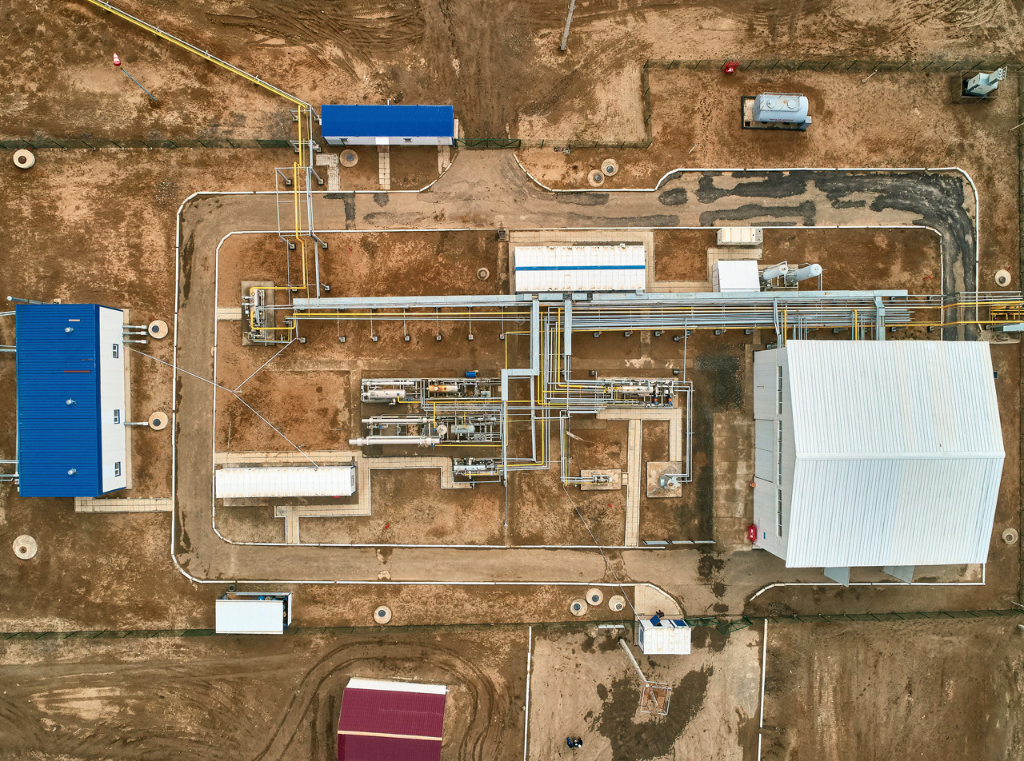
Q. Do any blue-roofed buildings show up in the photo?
Yes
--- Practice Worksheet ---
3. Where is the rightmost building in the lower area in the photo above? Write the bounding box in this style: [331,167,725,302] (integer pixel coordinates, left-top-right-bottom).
[754,339,1008,587]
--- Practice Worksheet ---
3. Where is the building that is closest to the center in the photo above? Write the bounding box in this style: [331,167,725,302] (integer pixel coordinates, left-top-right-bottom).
[514,240,646,295]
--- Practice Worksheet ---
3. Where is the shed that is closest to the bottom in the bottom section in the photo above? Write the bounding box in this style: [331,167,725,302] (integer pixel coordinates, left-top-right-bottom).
[336,679,449,761]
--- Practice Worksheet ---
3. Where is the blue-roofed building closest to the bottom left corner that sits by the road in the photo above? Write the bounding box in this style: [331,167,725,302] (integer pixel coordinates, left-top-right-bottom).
[0,303,151,497]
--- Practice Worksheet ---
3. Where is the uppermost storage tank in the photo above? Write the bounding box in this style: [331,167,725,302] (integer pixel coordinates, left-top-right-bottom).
[742,92,816,131]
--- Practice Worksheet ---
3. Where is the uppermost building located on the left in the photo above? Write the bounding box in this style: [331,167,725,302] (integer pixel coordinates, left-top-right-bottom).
[319,103,454,145]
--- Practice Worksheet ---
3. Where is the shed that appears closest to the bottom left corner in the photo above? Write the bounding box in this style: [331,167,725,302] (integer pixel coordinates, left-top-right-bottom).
[215,593,292,635]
